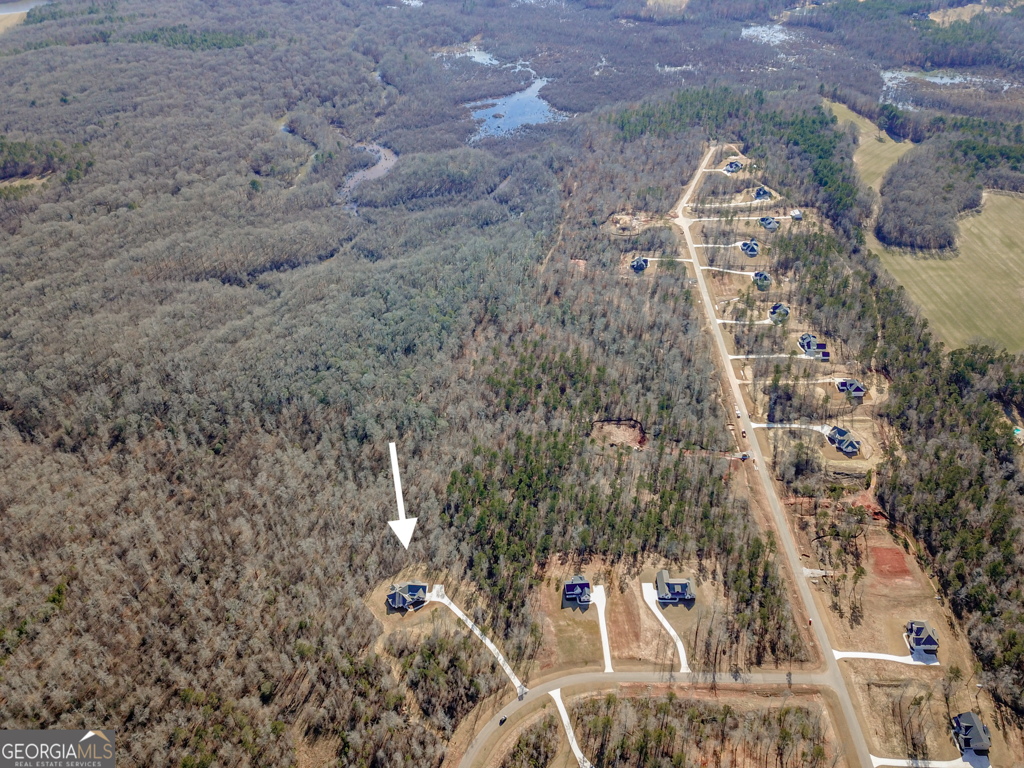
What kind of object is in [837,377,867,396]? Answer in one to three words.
house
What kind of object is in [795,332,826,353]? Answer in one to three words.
house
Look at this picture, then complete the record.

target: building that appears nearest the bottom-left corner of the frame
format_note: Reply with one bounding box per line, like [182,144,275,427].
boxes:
[387,575,428,610]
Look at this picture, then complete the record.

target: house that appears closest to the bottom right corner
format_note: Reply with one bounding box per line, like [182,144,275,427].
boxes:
[947,699,992,751]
